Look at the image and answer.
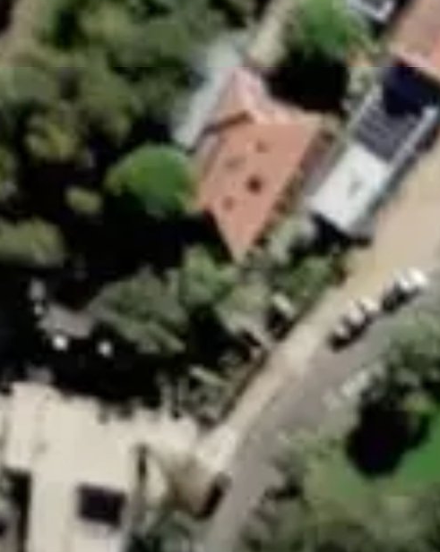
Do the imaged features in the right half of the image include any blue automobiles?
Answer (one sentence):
No, in the right half of the image there is no blue automobile.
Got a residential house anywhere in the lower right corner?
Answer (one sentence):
No, there's no residential house to be seen in the lower right corner.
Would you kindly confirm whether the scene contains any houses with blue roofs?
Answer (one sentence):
No, I can see no house with a blue roof in this picture.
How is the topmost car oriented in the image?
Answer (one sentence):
In this picture, the topmost car is oriented at an angle.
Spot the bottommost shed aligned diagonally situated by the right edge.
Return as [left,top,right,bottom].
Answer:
[306,70,440,240]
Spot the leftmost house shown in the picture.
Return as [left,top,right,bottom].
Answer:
[172,42,328,261]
